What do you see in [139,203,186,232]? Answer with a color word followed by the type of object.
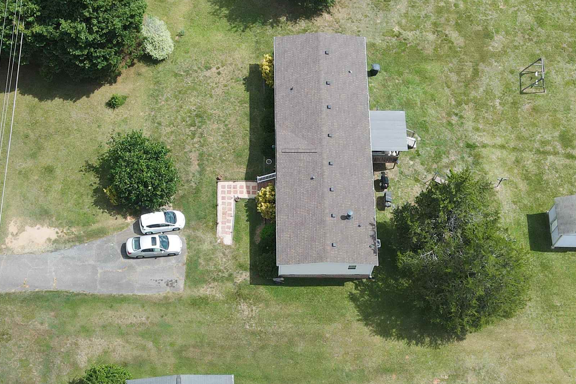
white car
